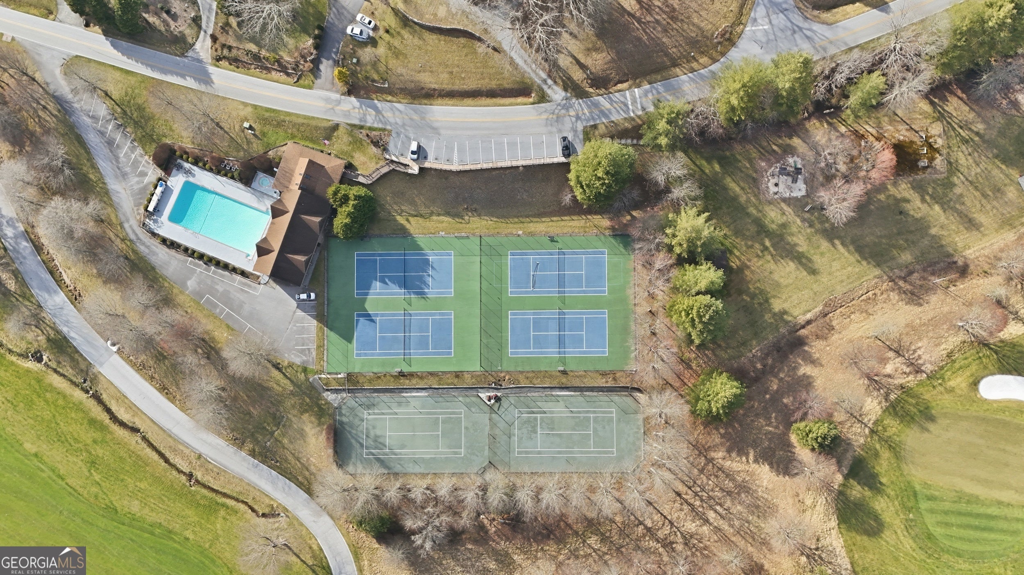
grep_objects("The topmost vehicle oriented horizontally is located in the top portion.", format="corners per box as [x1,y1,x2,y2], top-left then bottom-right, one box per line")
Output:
[346,27,369,39]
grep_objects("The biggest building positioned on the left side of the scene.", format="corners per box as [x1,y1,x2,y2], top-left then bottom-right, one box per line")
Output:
[254,142,346,285]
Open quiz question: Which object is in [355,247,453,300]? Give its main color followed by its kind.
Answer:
blue tennis court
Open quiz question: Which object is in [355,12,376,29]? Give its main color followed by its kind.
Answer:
white car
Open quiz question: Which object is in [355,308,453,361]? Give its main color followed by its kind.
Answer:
blue tennis court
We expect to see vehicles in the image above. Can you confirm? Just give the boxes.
[355,12,376,29]
[560,135,570,157]
[346,27,369,39]
[295,291,316,300]
[409,139,420,161]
